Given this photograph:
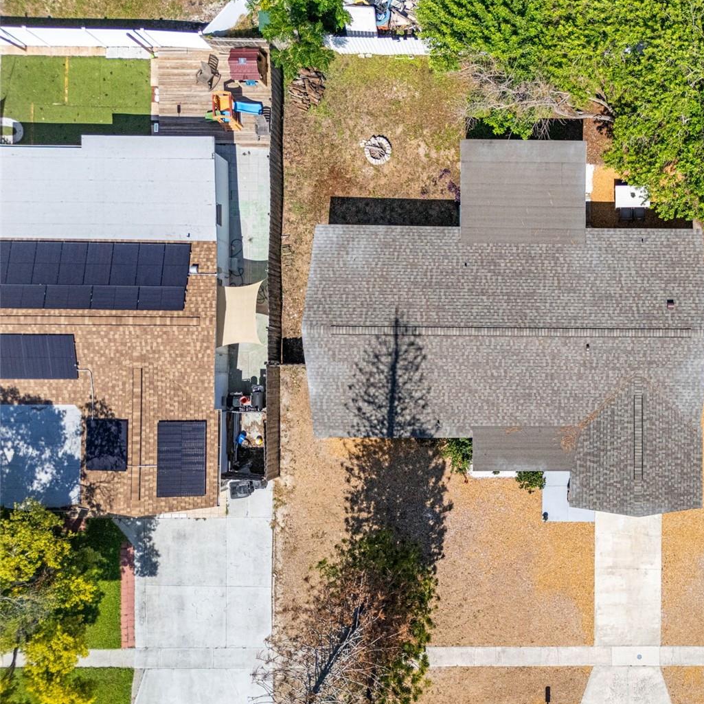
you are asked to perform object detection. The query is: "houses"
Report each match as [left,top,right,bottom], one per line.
[0,135,236,522]
[303,141,704,515]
